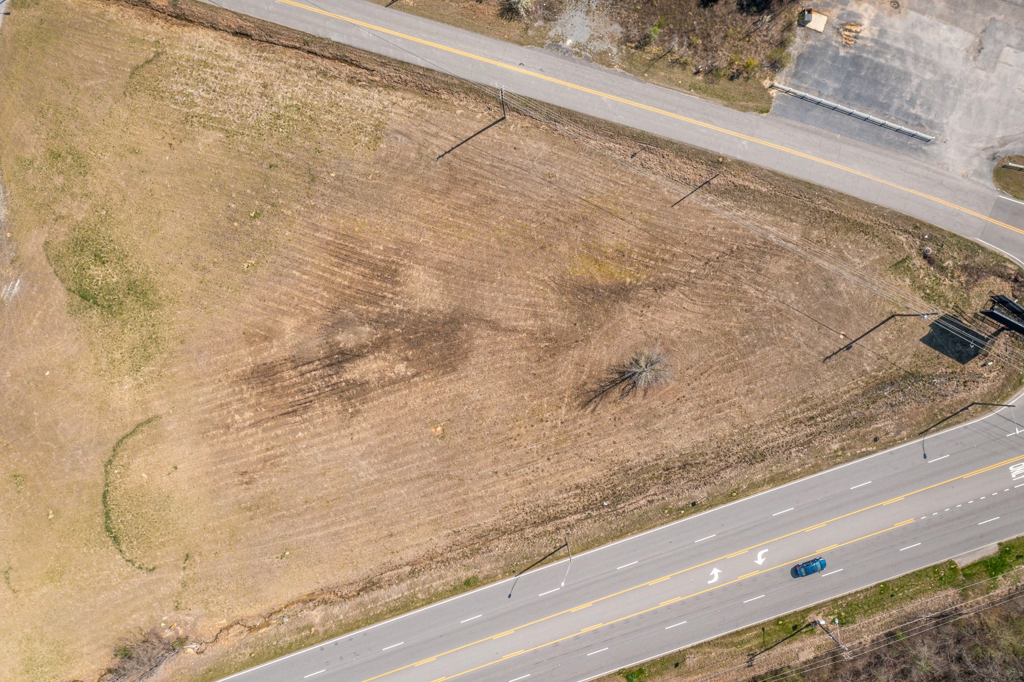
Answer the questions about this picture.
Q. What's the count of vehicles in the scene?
1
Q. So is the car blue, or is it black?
blue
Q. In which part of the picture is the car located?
bottom right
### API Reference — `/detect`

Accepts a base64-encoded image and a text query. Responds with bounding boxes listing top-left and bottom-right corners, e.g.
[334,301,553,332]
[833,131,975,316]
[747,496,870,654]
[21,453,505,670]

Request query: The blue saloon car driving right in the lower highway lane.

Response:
[796,557,828,577]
